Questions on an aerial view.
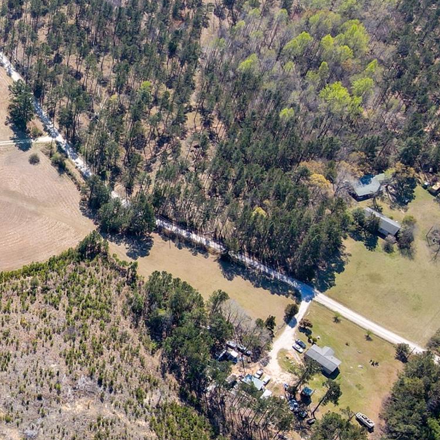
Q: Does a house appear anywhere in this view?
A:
Yes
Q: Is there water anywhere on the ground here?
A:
No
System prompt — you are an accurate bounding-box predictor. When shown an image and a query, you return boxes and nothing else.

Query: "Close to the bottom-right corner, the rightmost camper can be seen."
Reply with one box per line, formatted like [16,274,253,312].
[353,413,374,429]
